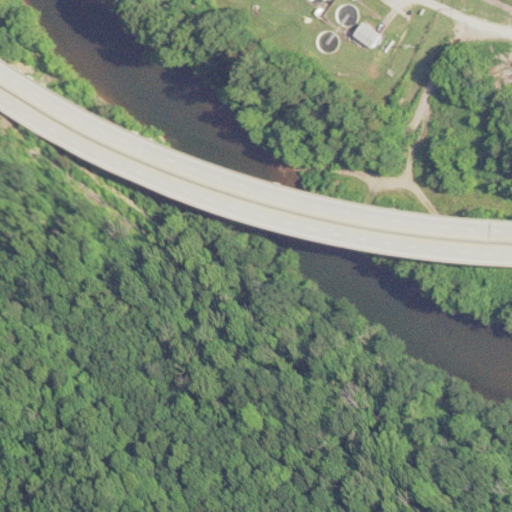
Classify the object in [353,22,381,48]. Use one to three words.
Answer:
building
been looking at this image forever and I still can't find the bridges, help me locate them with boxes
[0,58,512,268]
